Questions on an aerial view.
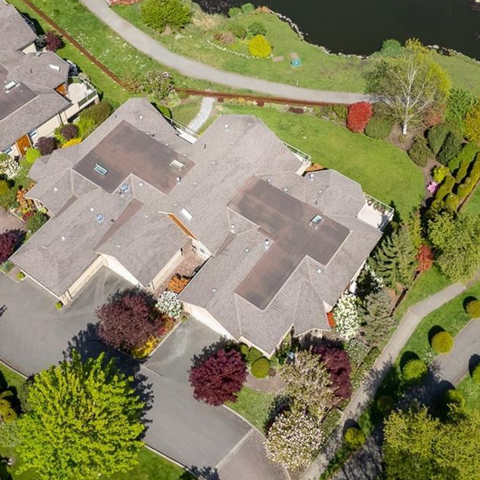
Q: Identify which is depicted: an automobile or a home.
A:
home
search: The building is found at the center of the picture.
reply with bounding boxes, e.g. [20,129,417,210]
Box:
[7,102,392,362]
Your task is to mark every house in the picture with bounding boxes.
[7,102,392,362]
[0,0,99,156]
